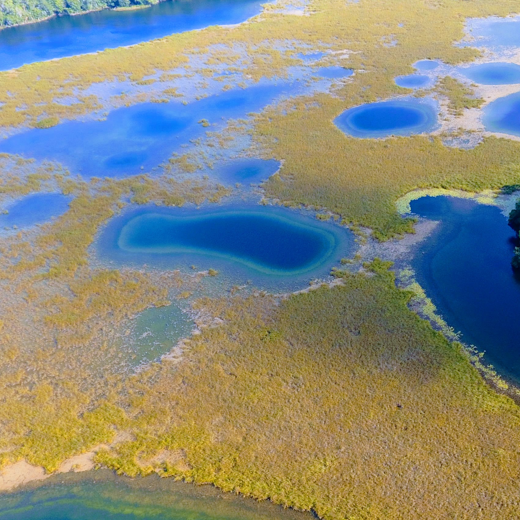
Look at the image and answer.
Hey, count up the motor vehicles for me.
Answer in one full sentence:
No motor vehicles are visible.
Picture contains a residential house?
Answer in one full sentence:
No, no residential house can be seen from above.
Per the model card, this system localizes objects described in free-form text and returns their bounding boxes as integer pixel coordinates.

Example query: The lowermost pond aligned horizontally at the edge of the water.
[122,216,332,270]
